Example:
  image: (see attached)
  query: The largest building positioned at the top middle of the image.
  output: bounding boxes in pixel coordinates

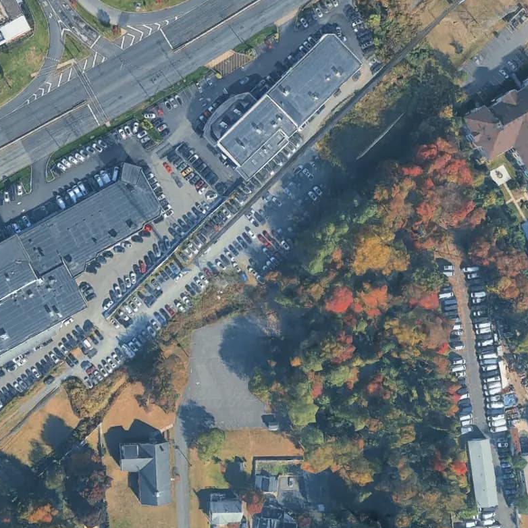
[216,35,362,180]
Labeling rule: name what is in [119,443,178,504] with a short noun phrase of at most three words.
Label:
house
